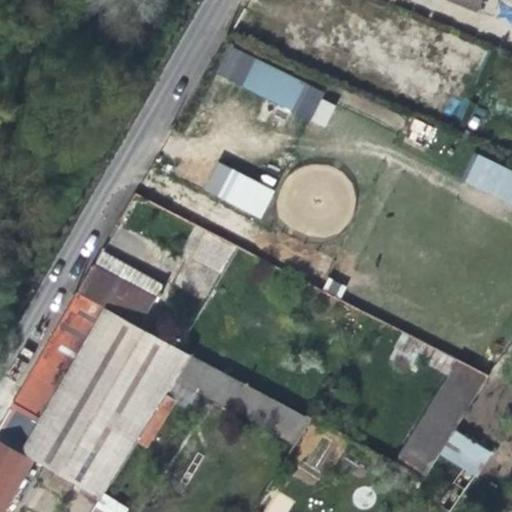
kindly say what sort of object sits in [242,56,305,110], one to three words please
barn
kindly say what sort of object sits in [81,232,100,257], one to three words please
car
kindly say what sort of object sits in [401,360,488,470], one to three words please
shed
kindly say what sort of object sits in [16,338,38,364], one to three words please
truck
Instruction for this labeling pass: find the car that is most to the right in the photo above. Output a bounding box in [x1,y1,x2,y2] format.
[470,106,488,130]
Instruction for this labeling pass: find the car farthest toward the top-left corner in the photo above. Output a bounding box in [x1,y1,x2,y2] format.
[171,76,188,100]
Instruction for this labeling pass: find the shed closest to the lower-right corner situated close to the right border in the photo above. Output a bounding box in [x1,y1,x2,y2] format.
[442,430,494,476]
